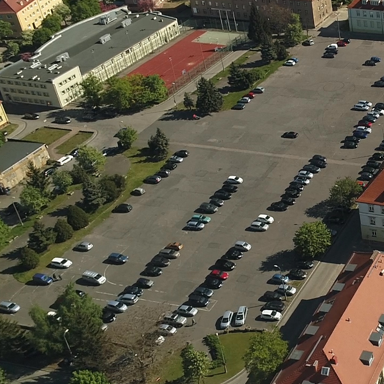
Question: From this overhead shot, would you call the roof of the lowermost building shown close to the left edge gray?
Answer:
Yes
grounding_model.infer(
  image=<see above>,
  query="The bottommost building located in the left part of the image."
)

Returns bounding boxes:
[0,138,51,193]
